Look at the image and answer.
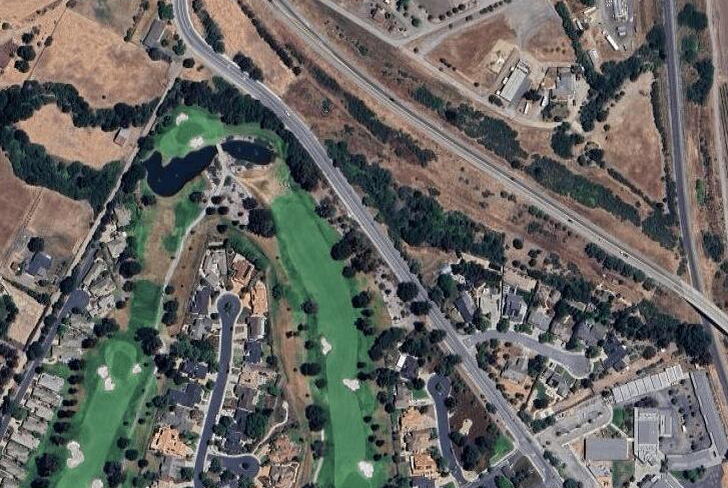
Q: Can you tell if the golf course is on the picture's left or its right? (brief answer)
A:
left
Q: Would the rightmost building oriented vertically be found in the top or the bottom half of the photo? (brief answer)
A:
bottom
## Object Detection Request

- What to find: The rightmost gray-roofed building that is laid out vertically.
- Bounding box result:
[694,372,728,456]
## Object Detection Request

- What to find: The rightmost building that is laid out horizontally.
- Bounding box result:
[665,450,721,469]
